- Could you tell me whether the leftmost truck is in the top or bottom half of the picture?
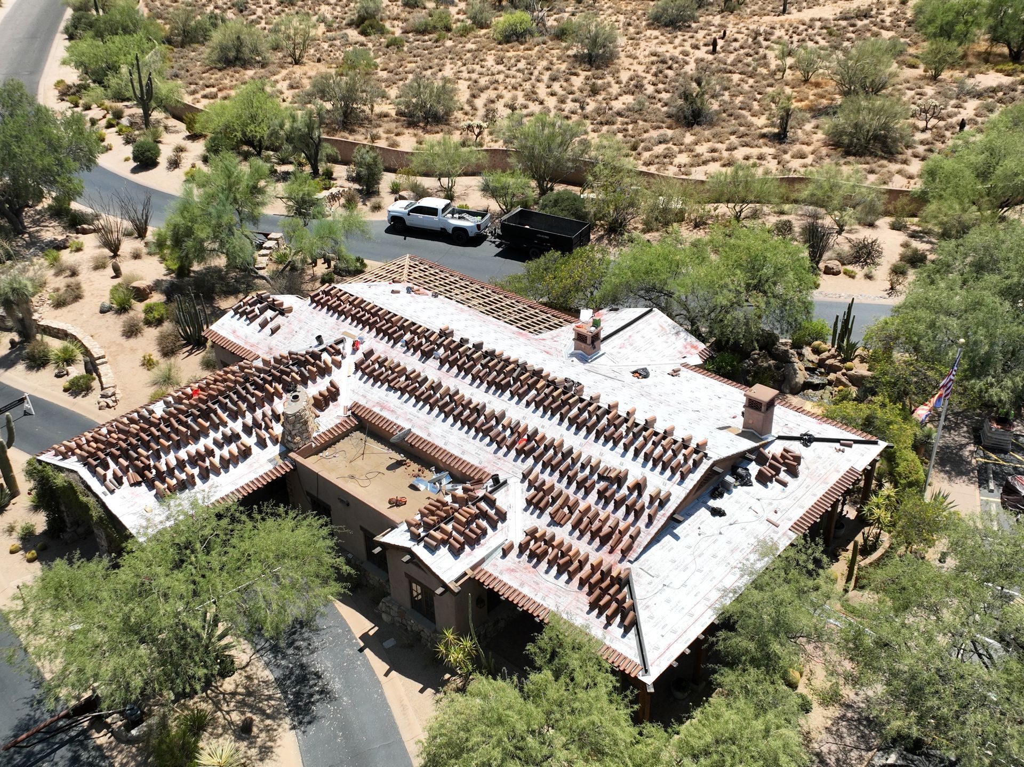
top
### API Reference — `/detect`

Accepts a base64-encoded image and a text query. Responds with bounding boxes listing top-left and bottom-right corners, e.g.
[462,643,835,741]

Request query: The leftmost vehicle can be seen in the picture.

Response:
[383,193,495,245]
